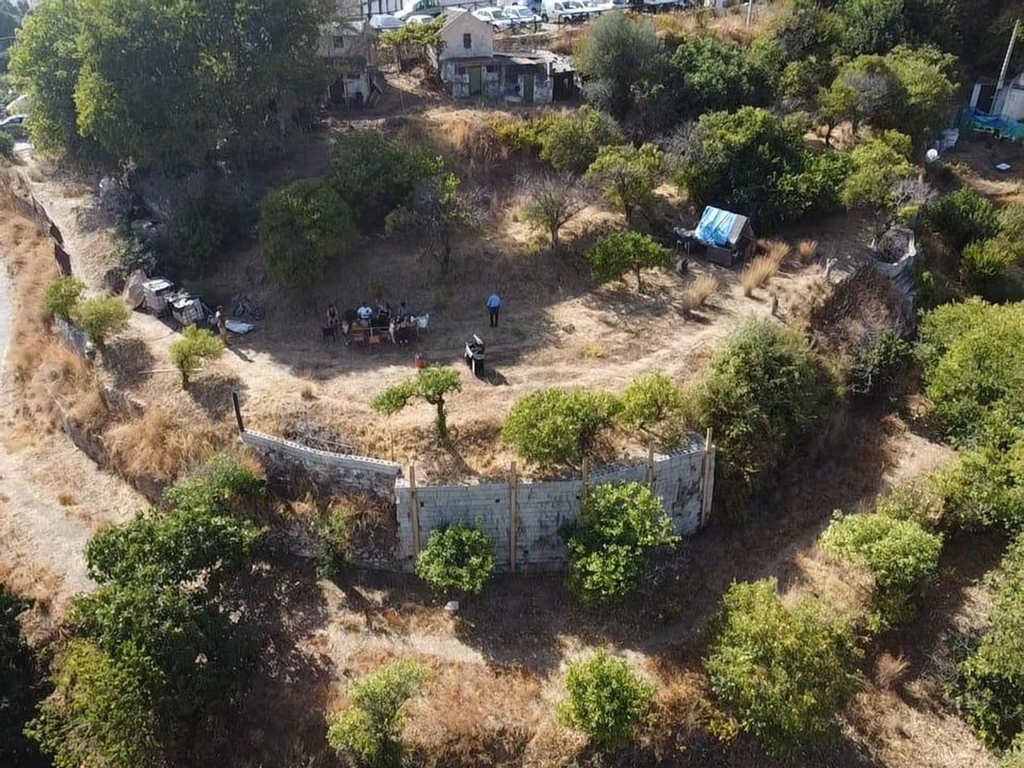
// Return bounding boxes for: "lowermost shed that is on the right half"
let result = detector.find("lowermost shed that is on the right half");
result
[693,212,762,273]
